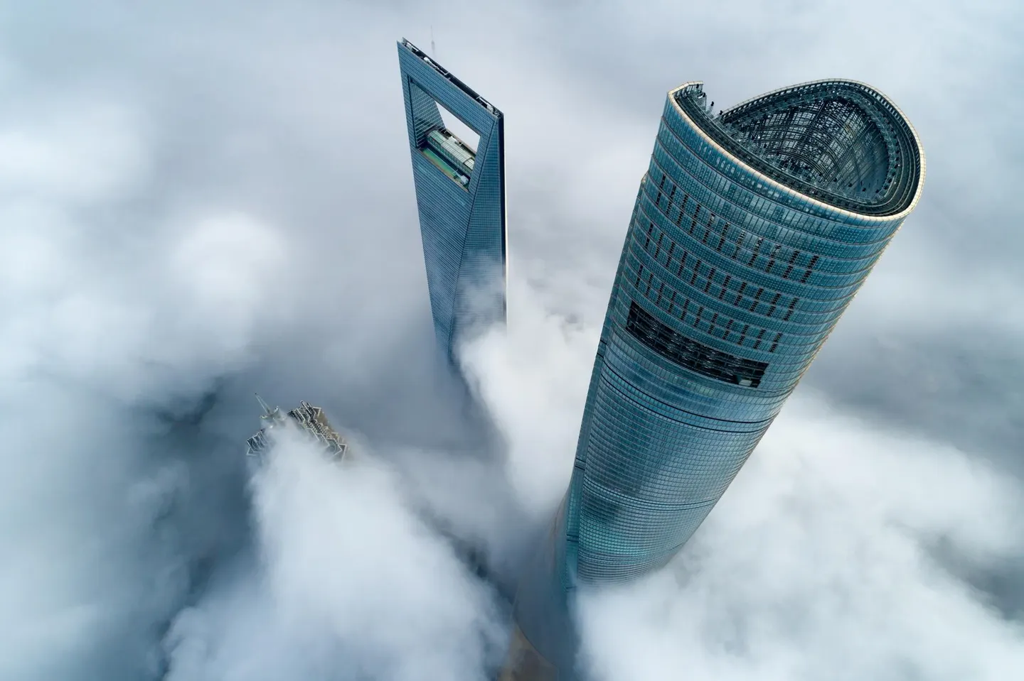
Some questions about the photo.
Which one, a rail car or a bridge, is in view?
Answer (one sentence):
Of the two, only a bridge appears.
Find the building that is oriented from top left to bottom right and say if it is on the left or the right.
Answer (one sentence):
You can find the building that is oriented from top left to bottom right on the left side of the picture.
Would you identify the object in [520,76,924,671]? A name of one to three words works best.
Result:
building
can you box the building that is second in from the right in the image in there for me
[396,39,506,483]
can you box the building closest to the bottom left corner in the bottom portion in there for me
[239,388,420,624]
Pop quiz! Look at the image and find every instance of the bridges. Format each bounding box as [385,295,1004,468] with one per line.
[427,123,477,171]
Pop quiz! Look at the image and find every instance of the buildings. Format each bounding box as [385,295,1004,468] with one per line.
[396,39,506,483]
[239,388,420,624]
[520,76,924,671]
